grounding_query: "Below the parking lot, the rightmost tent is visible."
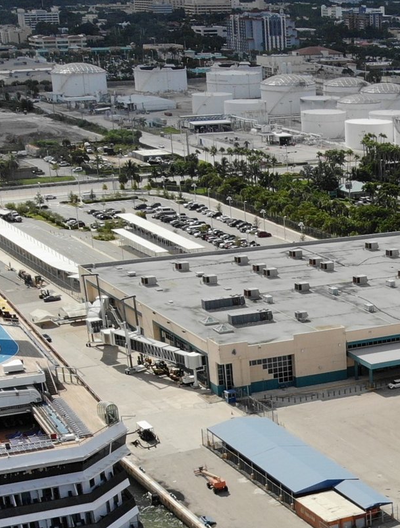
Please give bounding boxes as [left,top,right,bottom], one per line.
[49,304,89,326]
